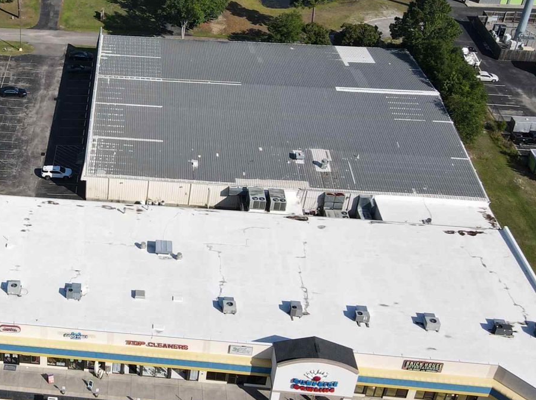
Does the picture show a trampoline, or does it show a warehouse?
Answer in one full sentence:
This aerial view contains a warehouse.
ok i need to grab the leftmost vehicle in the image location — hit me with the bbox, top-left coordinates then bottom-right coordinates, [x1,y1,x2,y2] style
[0,85,25,97]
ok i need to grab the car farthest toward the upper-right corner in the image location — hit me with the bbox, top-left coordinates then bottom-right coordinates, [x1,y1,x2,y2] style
[482,72,502,84]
